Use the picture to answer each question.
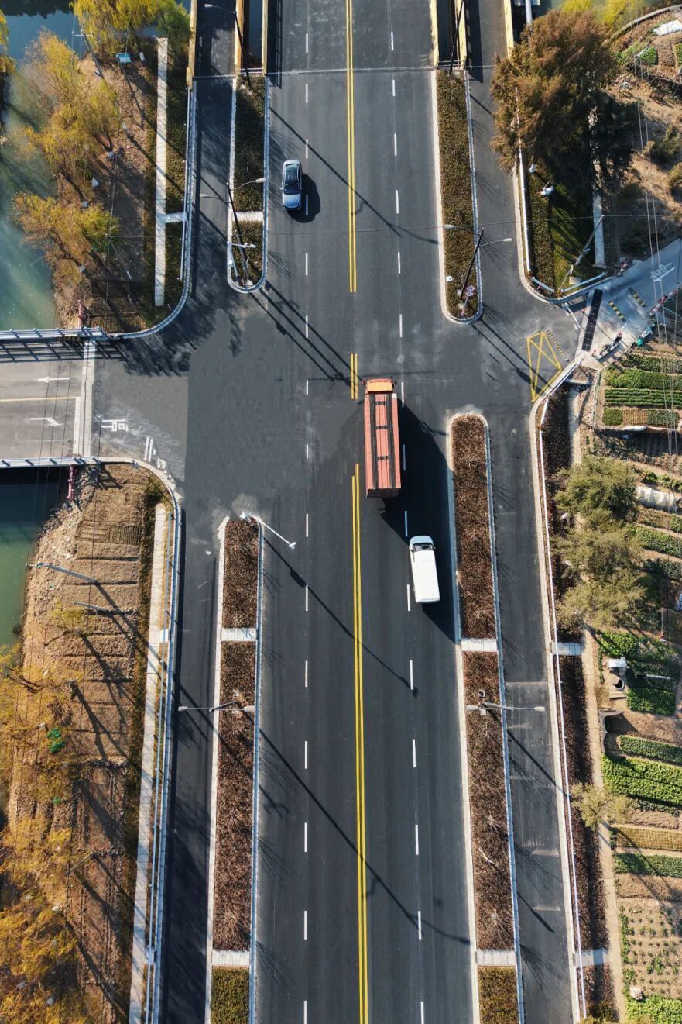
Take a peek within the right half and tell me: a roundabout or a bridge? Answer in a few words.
bridge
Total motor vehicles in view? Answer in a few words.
three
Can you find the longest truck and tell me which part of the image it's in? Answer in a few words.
center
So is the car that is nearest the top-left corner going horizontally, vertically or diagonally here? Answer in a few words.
vertically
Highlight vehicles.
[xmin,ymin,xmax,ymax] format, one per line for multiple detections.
[362,377,401,501]
[409,538,439,606]
[279,155,304,208]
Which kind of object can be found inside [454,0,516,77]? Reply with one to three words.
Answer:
bridge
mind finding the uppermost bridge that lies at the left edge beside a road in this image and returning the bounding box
[0,329,102,469]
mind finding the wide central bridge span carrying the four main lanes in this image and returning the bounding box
[261,0,438,79]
